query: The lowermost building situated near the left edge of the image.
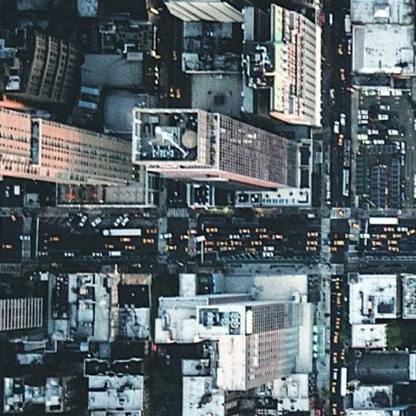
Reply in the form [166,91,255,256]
[2,373,79,414]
